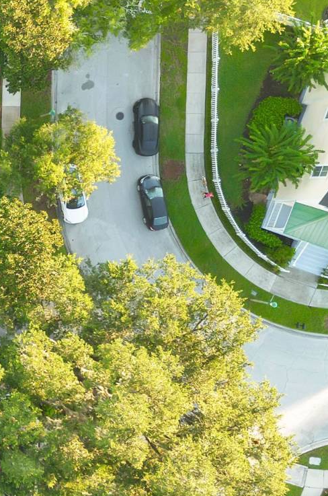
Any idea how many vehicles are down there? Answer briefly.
3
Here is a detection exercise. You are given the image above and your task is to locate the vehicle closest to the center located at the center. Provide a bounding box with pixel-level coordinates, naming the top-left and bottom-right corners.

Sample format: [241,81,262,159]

[135,175,165,230]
